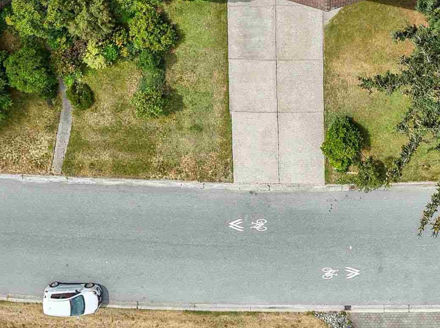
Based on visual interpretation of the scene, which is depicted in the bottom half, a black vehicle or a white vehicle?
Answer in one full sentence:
Looking in the bottom half, you will find a white vehicle.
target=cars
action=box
[39,282,101,316]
